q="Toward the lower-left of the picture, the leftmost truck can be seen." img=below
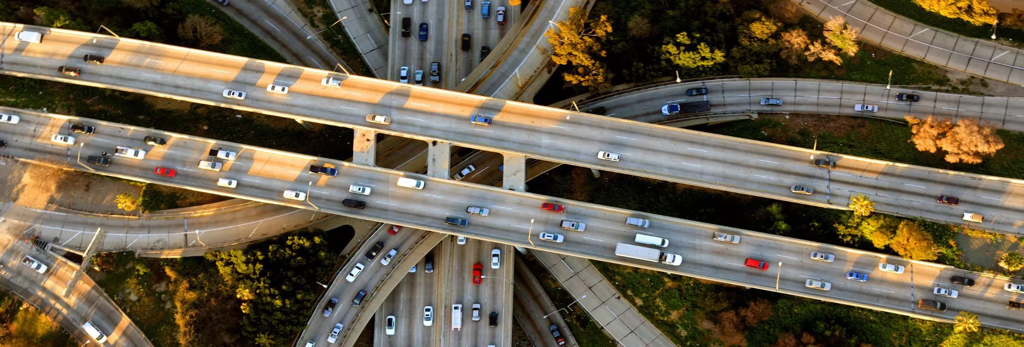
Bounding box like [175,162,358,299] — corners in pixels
[19,253,50,275]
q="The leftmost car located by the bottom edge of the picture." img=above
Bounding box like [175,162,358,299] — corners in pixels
[80,317,109,346]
